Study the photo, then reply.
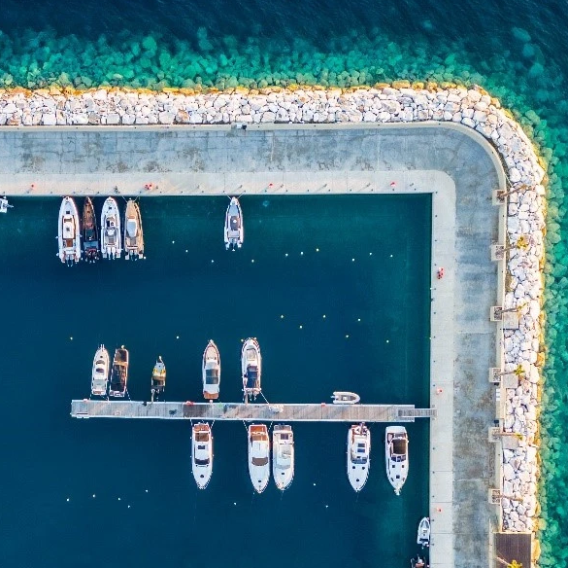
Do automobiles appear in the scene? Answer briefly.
No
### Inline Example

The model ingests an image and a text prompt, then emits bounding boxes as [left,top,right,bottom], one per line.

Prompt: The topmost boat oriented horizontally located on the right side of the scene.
[329,392,361,404]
